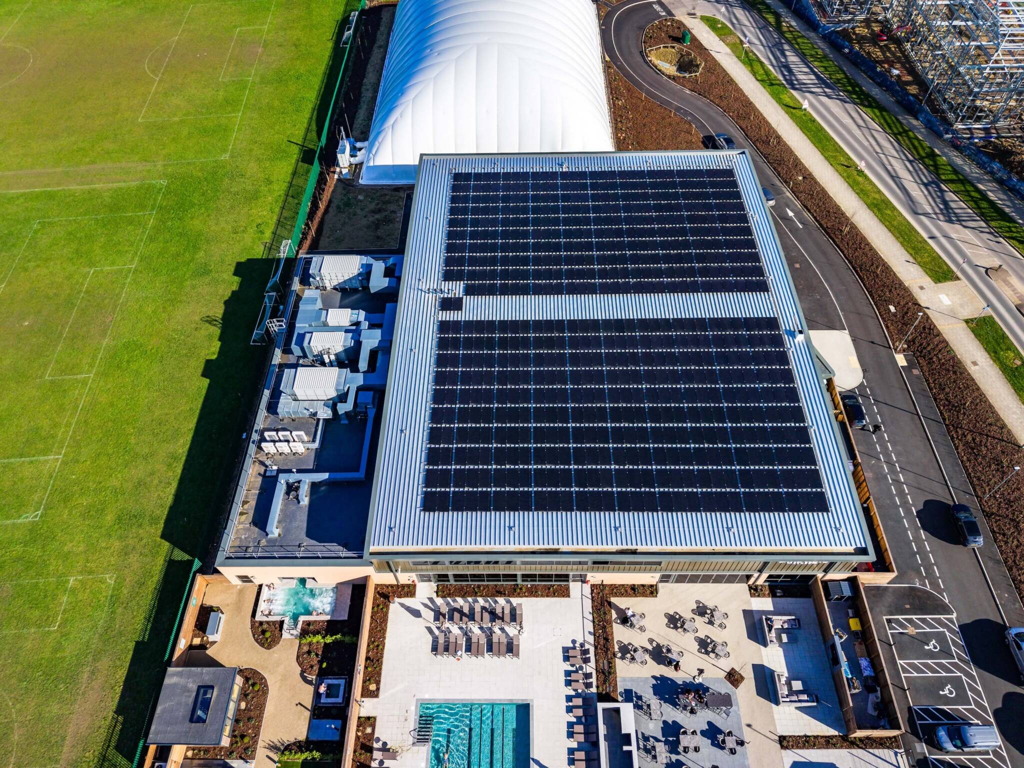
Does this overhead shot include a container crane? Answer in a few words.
No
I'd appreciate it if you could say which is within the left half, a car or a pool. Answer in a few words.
pool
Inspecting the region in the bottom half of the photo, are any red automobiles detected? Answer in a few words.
No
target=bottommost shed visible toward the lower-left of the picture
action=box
[146,667,242,747]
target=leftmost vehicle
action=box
[708,135,735,152]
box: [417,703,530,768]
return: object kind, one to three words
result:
swimming pool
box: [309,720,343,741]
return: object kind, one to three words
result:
swimming pool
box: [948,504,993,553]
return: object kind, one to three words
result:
car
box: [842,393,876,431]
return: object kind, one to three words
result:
car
